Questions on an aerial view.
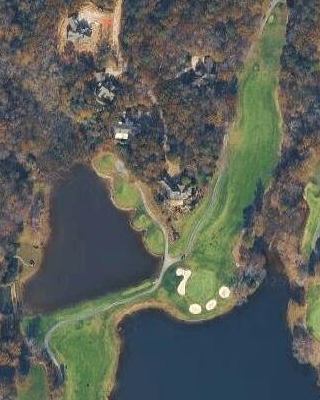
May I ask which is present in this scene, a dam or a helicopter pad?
dam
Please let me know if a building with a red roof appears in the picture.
No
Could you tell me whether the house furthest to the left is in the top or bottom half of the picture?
top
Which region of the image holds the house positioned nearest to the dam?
center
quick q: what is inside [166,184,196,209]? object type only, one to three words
house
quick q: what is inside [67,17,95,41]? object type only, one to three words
house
